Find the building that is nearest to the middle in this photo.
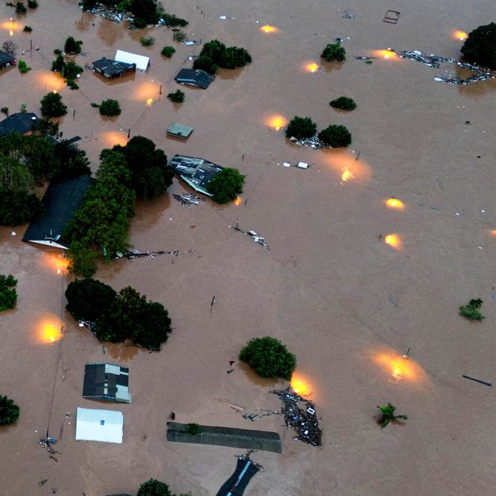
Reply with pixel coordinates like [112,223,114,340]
[170,155,227,196]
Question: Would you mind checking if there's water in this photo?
Yes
